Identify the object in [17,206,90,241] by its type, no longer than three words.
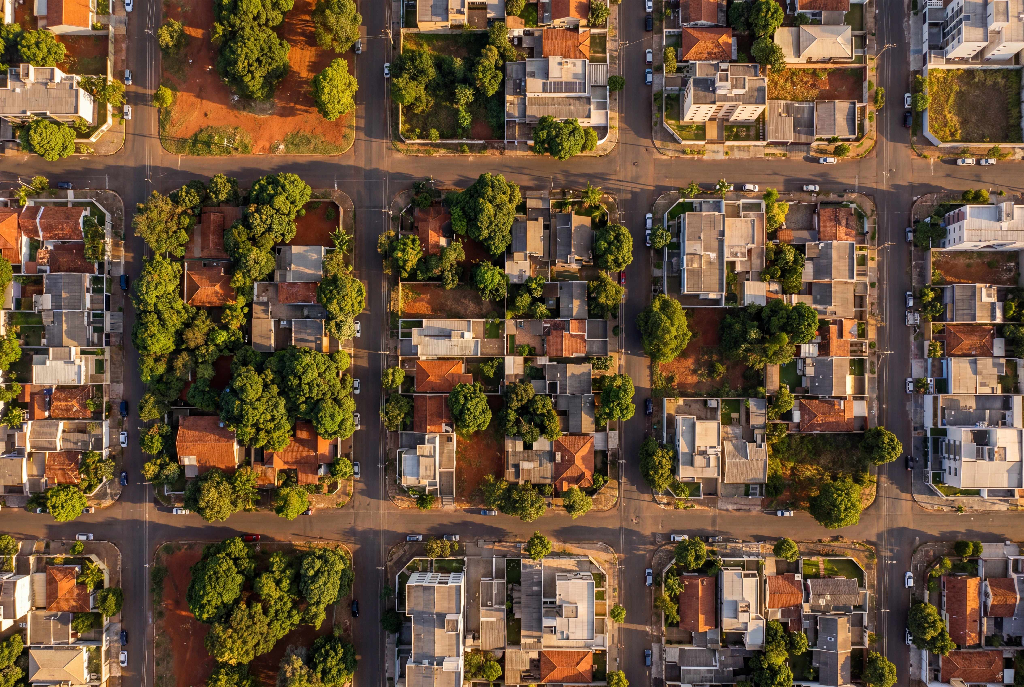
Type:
house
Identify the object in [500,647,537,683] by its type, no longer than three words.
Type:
shed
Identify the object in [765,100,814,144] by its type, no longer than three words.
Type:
building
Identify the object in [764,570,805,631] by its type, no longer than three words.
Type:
house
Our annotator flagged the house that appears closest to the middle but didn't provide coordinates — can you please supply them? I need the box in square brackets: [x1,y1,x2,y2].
[505,357,523,382]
